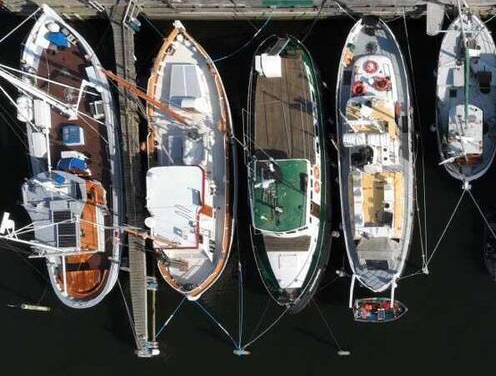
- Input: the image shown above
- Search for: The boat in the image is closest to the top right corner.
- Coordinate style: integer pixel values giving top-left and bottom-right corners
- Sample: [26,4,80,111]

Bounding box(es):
[436,0,496,193]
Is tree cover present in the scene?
No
